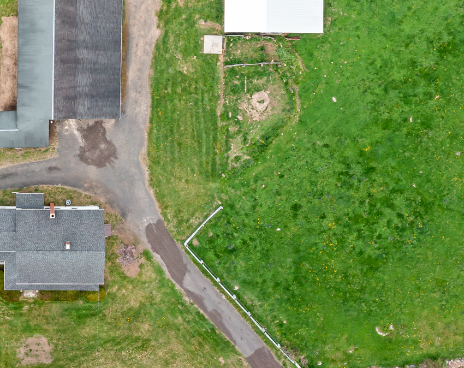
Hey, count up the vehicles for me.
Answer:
0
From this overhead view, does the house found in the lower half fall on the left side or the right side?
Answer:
left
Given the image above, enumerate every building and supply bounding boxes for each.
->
[201,36,224,54]
[0,191,112,300]
[219,0,323,33]
[0,0,123,147]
